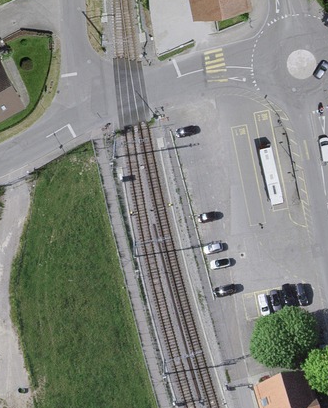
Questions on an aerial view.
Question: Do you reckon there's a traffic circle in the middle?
No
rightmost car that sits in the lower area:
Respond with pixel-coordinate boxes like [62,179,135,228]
[296,282,308,305]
